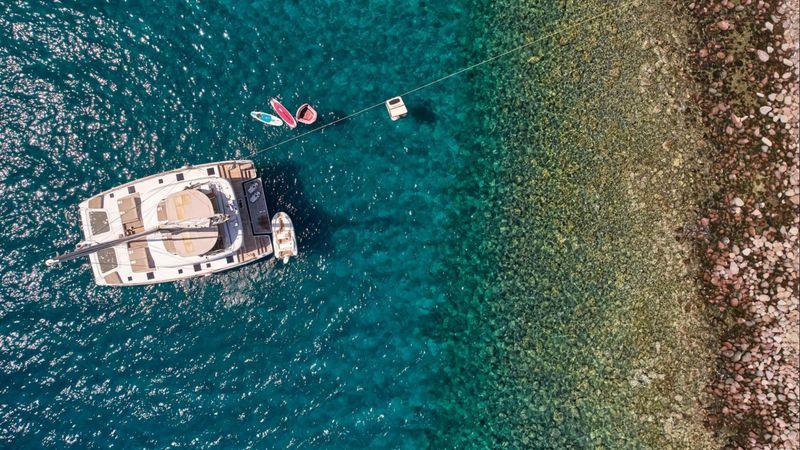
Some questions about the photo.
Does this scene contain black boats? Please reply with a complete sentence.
No, no black boat is visible in the view.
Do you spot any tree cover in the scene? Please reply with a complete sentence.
No, there is no tree cover in the image.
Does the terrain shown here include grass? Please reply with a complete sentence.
No, there is no grass in the image.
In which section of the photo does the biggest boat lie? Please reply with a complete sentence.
You can find the biggest boat in the left area of the picture.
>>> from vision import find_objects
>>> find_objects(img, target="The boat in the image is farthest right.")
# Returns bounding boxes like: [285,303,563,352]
[273,212,296,263]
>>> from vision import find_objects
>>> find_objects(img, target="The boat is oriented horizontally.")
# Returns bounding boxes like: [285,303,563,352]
[25,163,276,284]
